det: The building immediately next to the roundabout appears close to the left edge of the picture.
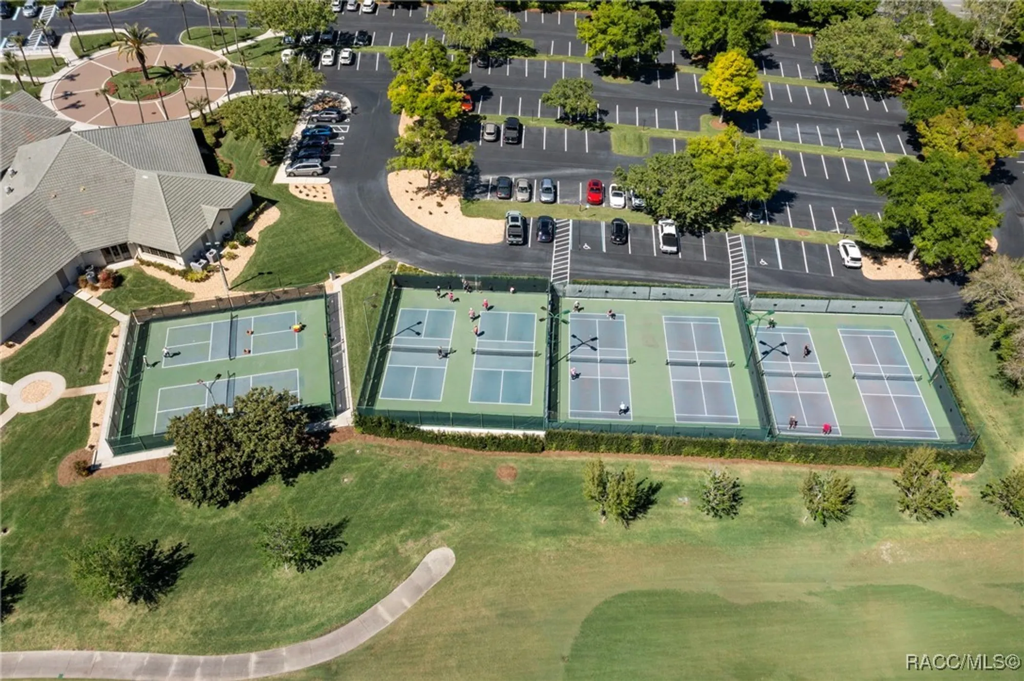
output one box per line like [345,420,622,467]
[0,90,255,340]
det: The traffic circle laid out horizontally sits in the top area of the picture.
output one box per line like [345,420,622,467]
[49,43,236,126]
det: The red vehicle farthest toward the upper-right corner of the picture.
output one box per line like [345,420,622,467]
[587,179,604,202]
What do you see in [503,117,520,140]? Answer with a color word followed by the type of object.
black vehicle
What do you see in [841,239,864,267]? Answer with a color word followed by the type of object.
white car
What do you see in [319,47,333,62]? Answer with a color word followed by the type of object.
white car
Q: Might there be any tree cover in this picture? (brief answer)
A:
Yes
